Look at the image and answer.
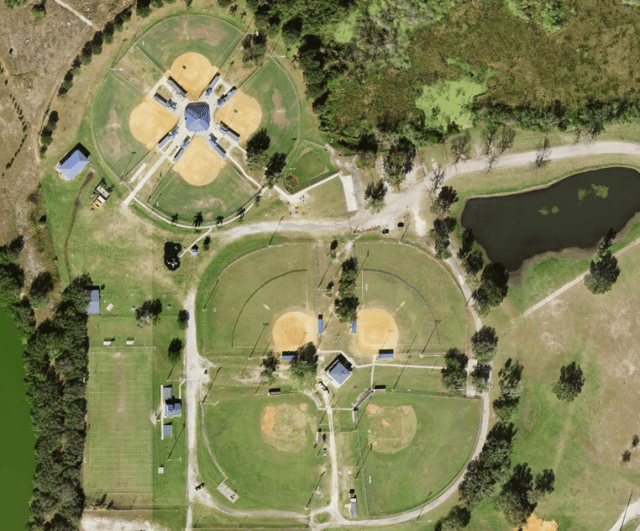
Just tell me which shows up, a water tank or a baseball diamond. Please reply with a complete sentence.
Of the two, only a baseball diamond appears.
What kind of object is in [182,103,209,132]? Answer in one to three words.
building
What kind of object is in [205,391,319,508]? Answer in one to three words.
baseball field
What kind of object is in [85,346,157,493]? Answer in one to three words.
sports field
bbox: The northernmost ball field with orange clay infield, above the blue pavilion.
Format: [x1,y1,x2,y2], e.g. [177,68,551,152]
[136,16,244,103]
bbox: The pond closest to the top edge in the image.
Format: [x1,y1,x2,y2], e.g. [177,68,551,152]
[460,167,640,270]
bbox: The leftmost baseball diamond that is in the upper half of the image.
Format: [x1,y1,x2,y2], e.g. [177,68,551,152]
[92,71,179,182]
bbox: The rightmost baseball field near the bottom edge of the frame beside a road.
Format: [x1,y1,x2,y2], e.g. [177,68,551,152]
[356,394,480,515]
